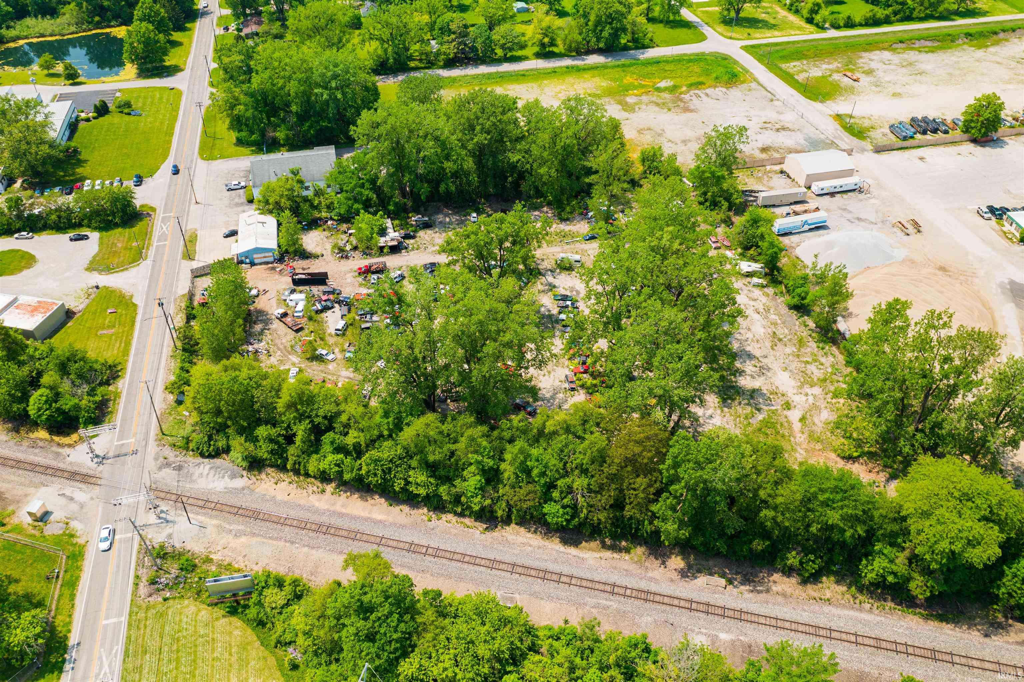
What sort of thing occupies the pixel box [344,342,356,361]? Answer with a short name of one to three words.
vehicle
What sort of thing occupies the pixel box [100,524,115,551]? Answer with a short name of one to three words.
car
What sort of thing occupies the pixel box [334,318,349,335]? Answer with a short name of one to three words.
car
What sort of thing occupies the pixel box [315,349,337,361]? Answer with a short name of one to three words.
vehicle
